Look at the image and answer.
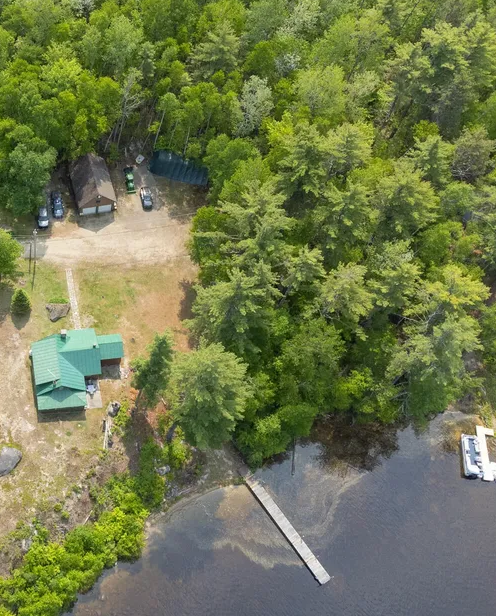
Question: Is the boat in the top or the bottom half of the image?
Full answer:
It is in the bottom half that the boat appears.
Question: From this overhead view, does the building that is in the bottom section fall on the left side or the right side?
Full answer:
The building that is in the bottom section appears in the left half of the scene.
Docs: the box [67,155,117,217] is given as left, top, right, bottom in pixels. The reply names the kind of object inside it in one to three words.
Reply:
building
